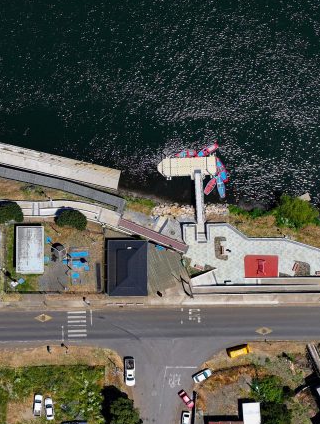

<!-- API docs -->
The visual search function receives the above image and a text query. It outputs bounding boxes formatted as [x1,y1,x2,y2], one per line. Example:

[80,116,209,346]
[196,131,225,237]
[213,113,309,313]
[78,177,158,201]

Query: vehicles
[227,345,252,360]
[32,395,42,417]
[192,369,214,384]
[178,389,195,410]
[125,358,136,387]
[44,398,54,421]
[182,412,191,424]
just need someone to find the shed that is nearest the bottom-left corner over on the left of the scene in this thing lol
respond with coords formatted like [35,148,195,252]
[16,226,44,273]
